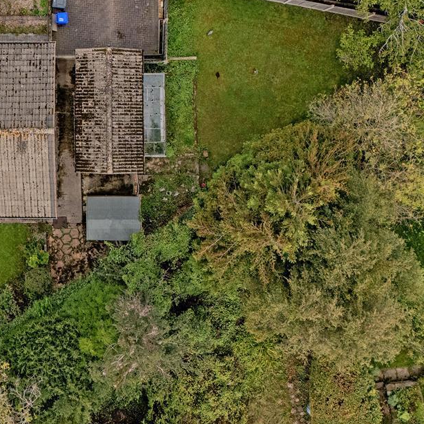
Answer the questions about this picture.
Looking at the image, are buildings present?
Yes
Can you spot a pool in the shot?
No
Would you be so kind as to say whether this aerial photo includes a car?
No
